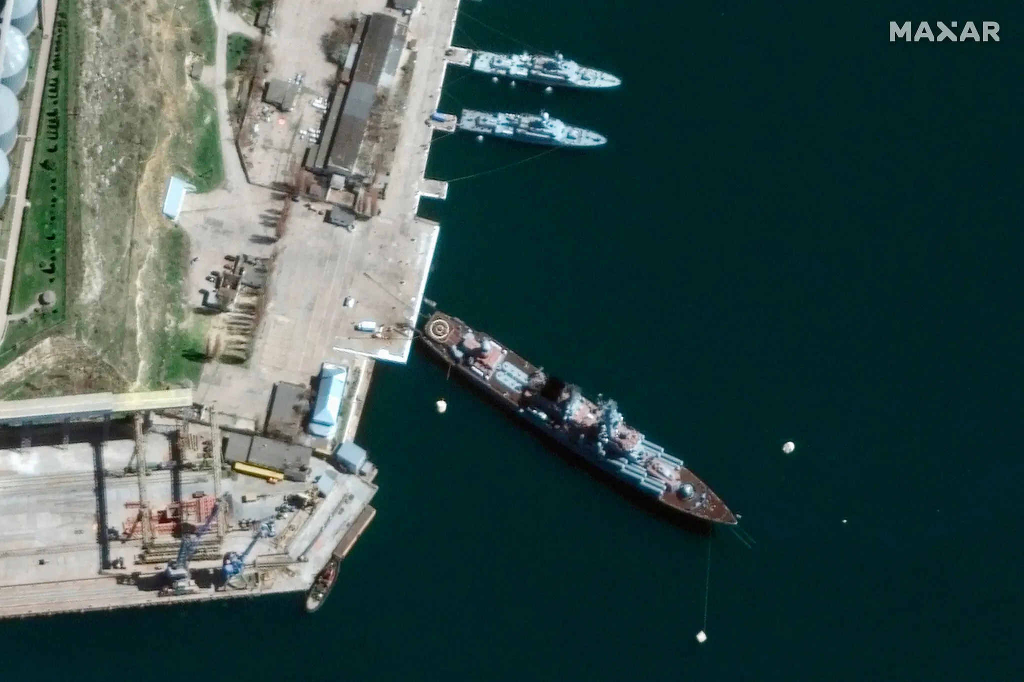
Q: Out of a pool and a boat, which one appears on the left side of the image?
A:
boat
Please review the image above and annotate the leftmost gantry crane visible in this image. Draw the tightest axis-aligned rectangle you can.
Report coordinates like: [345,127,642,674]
[122,411,159,552]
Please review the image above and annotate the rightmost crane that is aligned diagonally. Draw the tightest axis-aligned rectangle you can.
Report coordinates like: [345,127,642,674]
[213,531,266,593]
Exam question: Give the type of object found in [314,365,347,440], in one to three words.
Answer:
building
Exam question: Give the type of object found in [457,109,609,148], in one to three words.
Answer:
ship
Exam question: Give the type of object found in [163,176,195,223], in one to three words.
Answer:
building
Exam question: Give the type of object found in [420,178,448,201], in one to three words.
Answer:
pier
